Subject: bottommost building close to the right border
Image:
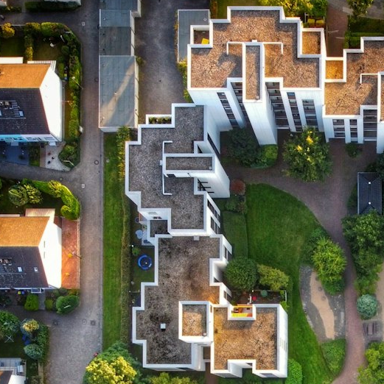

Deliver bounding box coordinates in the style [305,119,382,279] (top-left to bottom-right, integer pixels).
[357,172,382,215]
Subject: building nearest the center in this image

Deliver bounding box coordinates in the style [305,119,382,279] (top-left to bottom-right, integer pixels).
[125,104,230,245]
